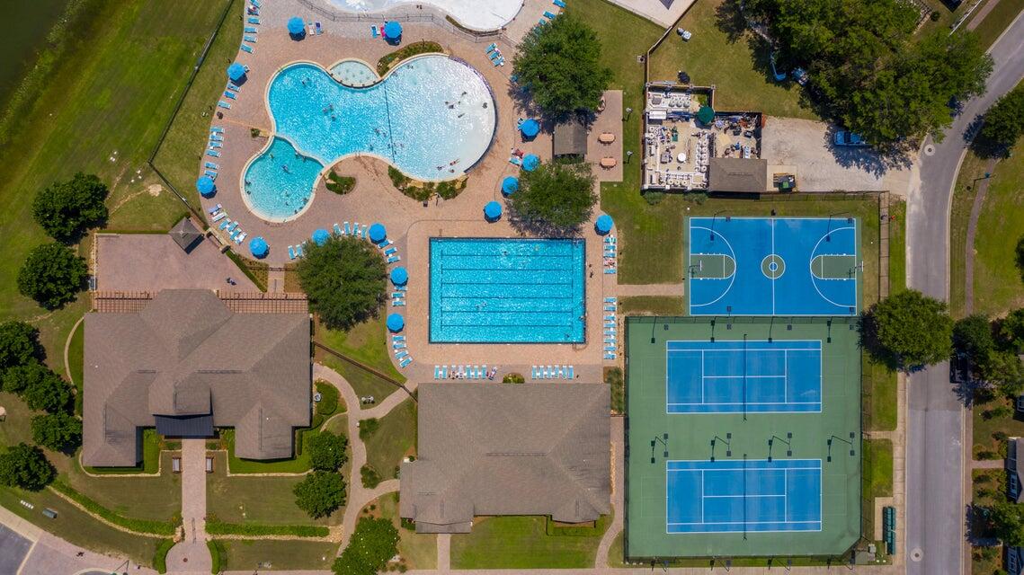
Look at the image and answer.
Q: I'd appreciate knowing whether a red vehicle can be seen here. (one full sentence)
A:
No, the picture doesn't show any red vehicle.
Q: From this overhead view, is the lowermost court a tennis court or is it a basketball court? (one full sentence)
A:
Specifically, the lowermost court is a tennis court.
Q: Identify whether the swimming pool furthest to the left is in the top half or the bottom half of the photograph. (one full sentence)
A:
The top half of the photo is where the swimming pool furthest to the left is.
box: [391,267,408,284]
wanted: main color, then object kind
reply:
blue umbrella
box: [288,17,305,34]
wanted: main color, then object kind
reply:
blue umbrella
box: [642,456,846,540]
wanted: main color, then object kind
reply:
blue tennis court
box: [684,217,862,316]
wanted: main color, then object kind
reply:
blue basketball court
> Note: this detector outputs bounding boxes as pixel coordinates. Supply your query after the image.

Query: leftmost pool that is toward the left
[240,136,324,223]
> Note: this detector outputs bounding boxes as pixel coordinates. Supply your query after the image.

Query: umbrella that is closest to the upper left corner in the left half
[228,63,245,80]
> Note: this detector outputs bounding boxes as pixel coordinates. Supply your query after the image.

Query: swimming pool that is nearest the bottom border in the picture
[429,234,587,346]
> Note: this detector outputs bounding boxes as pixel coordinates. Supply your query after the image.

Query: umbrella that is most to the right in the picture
[697,106,714,124]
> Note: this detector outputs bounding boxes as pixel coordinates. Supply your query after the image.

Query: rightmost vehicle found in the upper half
[832,130,873,146]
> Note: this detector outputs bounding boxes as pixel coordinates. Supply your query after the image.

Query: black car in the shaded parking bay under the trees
[948,348,968,383]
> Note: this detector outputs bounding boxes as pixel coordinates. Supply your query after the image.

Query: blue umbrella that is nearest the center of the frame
[485,202,502,219]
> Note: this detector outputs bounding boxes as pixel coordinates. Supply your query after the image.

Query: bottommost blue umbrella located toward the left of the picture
[387,314,404,331]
